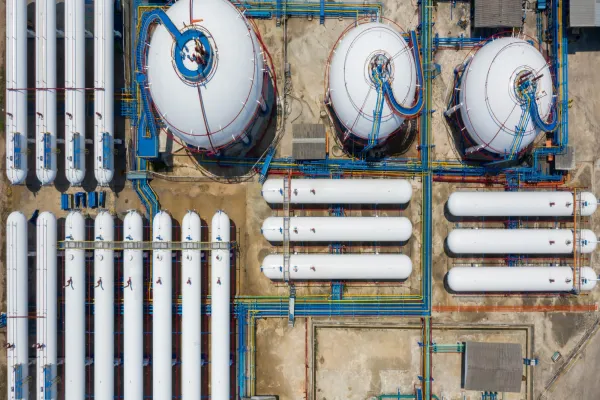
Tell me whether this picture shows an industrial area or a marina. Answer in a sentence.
The area seen from above is an industrial area.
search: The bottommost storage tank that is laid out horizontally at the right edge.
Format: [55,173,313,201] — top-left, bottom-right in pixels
[447,261,600,293]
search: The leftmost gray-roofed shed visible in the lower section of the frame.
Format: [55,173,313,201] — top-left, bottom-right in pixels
[459,340,524,392]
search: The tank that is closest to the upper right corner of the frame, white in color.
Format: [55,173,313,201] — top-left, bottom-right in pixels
[437,30,565,166]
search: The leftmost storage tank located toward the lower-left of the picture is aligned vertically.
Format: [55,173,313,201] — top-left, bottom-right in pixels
[2,210,35,400]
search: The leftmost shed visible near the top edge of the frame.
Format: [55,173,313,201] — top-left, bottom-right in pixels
[471,0,524,32]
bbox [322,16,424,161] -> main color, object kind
white storage tank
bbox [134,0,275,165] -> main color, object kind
white storage tank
